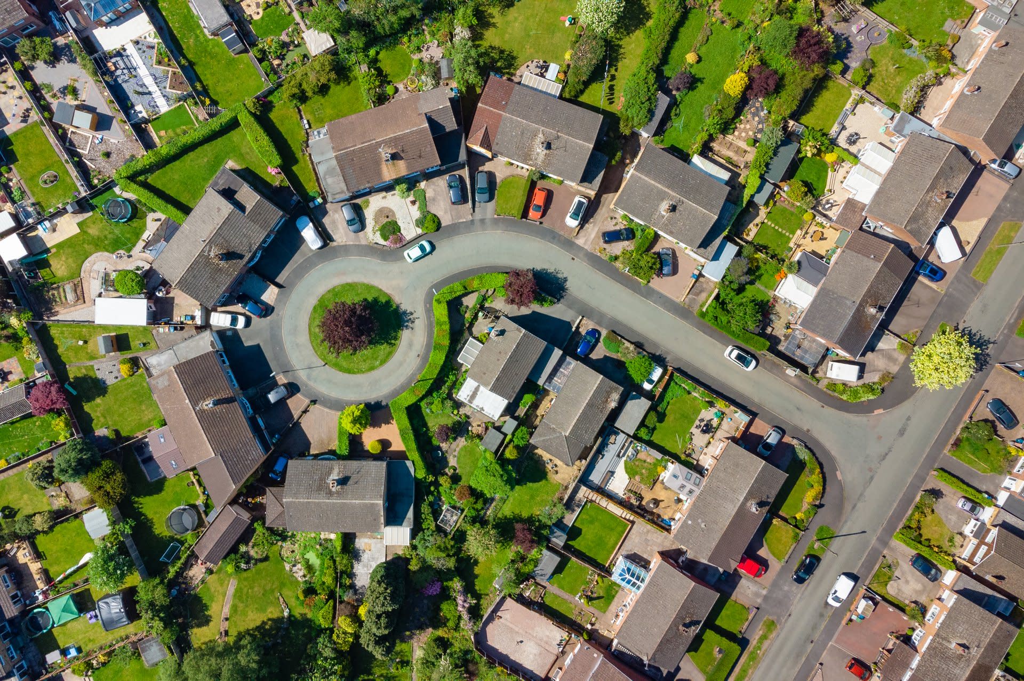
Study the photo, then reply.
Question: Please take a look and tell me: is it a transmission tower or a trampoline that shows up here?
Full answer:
This aerial view contains a trampoline.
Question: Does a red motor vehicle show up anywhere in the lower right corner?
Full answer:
Yes, looking in the lower right corner, one can make out a red motor vehicle.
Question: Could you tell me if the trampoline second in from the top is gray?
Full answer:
Yes, the trampoline second in from the top is gray.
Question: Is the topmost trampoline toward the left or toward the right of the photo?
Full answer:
The topmost trampoline sits on the left side.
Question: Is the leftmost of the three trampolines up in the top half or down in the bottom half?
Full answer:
The leftmost of the three trampolines sits in the bottom half of the picture.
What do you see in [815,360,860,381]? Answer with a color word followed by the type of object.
white camper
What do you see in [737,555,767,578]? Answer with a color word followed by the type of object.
red car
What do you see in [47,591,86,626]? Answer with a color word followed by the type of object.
green gazebo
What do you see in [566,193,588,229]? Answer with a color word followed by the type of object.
white car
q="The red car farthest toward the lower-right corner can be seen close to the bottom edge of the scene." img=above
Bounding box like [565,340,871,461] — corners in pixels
[845,655,871,681]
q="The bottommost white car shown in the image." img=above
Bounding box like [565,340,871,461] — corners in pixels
[828,571,856,607]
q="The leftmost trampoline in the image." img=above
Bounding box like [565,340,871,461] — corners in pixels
[17,608,51,641]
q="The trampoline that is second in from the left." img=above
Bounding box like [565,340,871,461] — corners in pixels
[96,192,133,225]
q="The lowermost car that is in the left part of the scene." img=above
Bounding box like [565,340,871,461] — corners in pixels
[269,453,289,482]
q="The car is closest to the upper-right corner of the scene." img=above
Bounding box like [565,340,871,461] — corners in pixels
[986,159,1022,179]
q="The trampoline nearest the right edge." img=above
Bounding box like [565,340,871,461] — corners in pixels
[161,504,197,539]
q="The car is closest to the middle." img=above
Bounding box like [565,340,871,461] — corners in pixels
[576,327,599,358]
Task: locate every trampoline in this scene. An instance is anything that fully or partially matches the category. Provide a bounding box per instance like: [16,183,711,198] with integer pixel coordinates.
[96,192,133,225]
[17,608,51,641]
[161,504,197,539]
